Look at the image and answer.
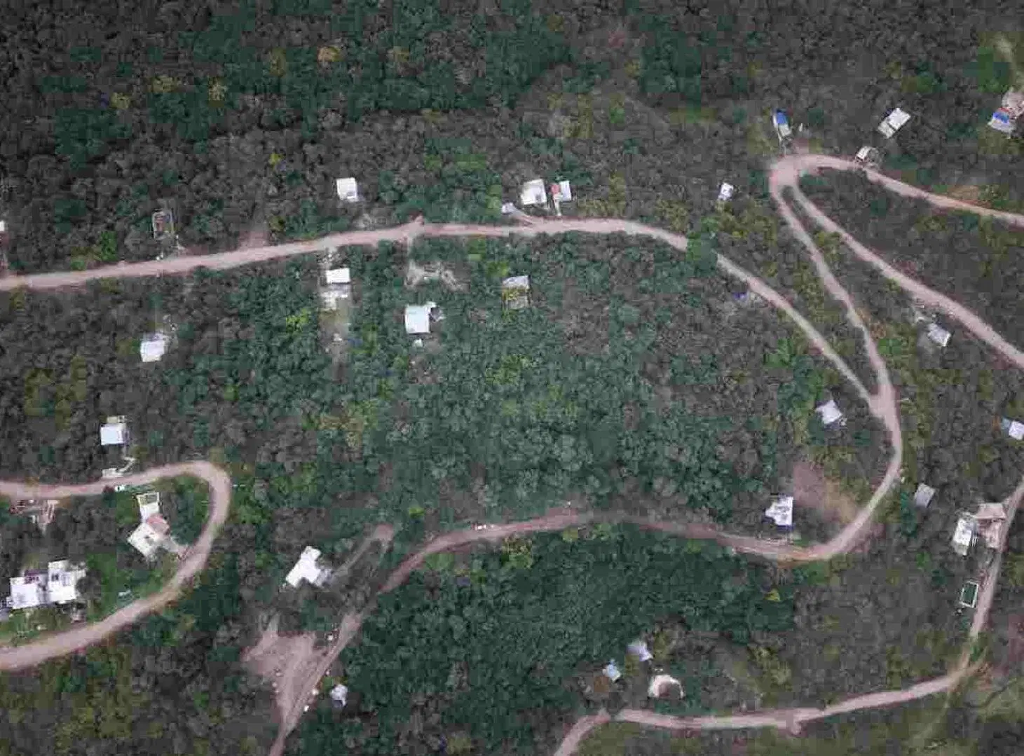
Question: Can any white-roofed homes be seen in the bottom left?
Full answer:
Yes, in the bottom left there is a white-roofed home.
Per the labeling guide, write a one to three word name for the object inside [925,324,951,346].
house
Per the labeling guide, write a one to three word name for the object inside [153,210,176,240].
house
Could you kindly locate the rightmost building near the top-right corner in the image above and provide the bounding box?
[985,89,1024,135]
